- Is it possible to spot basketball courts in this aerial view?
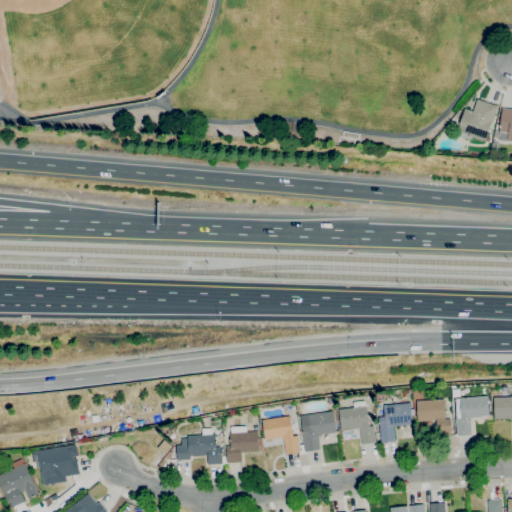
No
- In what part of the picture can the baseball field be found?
top left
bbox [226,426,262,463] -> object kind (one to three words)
house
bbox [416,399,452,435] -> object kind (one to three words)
house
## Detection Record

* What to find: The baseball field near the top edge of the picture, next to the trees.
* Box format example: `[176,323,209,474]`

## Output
[0,0,208,112]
